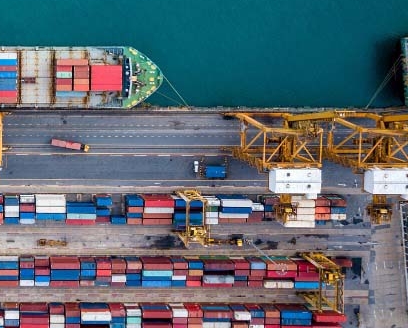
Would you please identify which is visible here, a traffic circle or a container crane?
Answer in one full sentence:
Looking from above, you can make out a container crane.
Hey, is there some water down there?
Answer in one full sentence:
Yes, there's water in this view.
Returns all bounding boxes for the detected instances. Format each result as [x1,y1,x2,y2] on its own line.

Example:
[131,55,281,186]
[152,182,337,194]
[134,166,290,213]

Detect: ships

[385,39,408,109]
[0,41,163,111]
